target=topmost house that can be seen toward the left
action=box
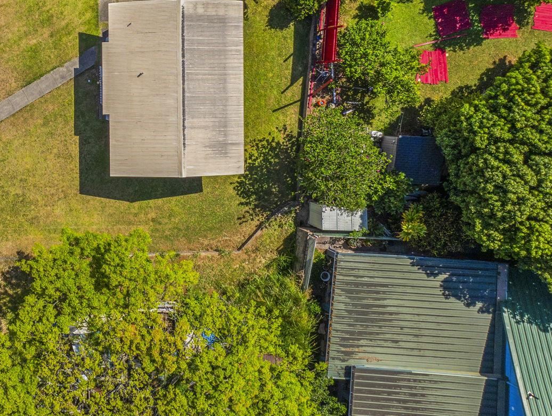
[101,0,244,178]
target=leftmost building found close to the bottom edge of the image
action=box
[324,252,508,416]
